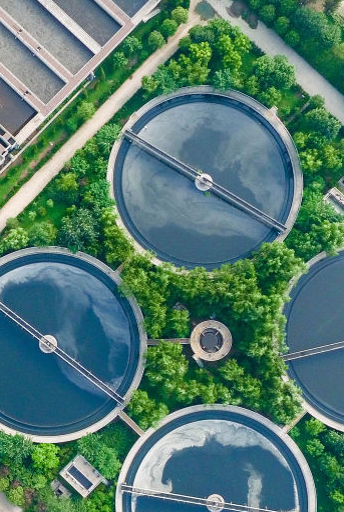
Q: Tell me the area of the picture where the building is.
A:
bottom left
